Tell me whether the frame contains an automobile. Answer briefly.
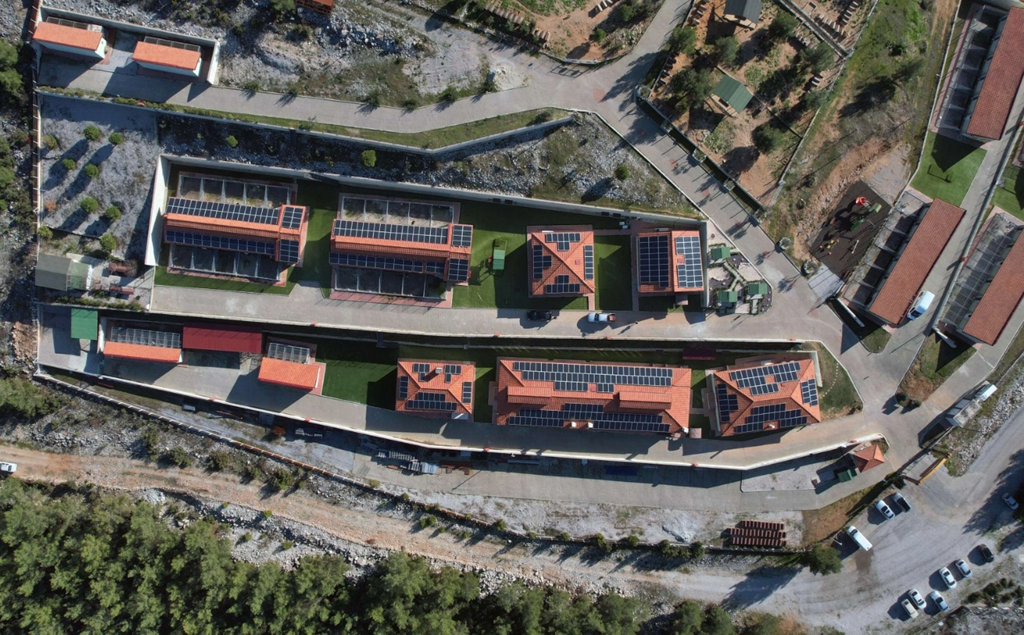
Yes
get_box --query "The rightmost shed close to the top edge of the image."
[916,0,1024,155]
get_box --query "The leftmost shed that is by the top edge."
[33,13,109,55]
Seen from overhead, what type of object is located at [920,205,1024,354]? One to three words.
shed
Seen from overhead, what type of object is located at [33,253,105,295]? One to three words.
barn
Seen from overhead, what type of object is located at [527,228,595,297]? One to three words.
house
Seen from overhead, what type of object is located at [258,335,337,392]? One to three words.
shed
